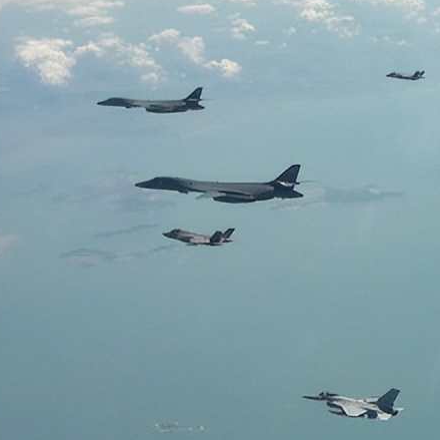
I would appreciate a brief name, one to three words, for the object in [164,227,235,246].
airplane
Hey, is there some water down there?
Yes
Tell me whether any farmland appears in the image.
No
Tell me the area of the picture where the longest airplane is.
center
